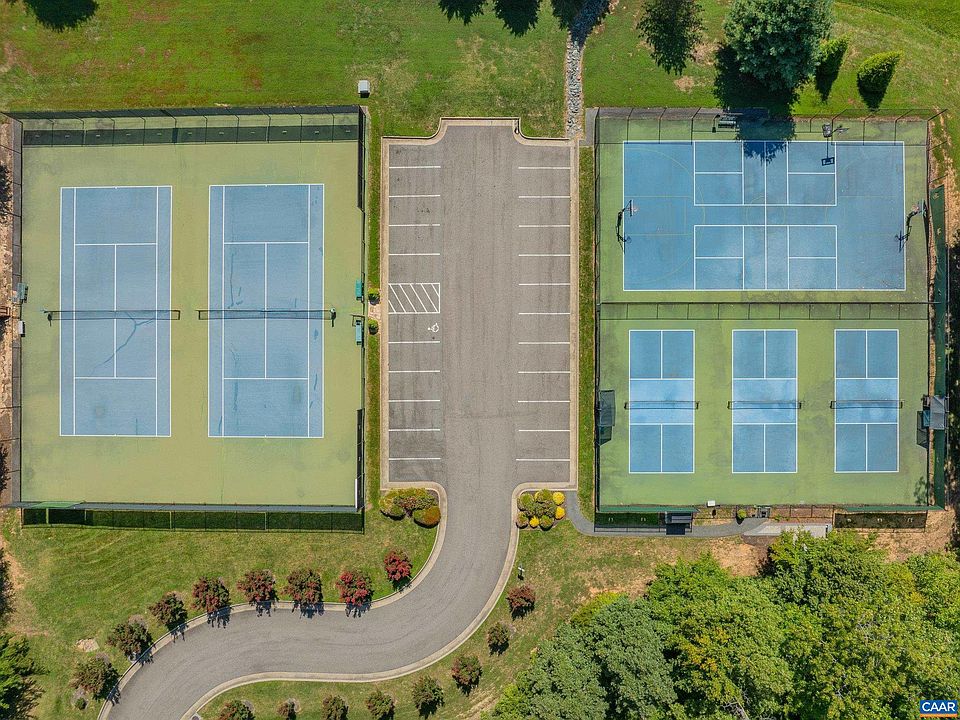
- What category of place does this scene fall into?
sports ground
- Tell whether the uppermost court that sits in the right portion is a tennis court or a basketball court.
basketball court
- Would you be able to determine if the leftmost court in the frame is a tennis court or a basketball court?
tennis court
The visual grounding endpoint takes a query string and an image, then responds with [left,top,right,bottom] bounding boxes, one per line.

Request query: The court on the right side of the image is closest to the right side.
[816,305,929,504]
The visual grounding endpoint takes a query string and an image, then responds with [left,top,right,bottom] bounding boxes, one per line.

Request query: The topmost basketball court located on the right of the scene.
[599,119,929,304]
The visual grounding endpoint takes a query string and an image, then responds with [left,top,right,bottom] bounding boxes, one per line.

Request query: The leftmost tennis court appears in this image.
[21,117,190,504]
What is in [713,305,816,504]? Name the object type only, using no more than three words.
sports court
